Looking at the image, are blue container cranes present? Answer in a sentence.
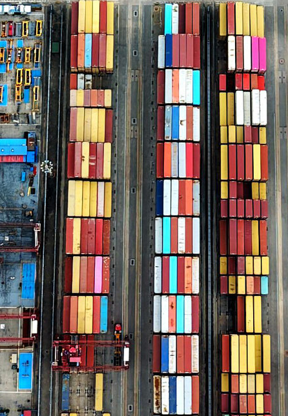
No, no blue container crane can be seen from above.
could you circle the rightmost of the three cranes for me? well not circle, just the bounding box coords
[52,334,129,373]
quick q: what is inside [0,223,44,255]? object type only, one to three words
container crane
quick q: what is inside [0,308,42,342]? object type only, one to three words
container crane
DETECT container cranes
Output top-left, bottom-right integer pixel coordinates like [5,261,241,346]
[0,308,42,342]
[0,223,44,255]
[52,334,129,373]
